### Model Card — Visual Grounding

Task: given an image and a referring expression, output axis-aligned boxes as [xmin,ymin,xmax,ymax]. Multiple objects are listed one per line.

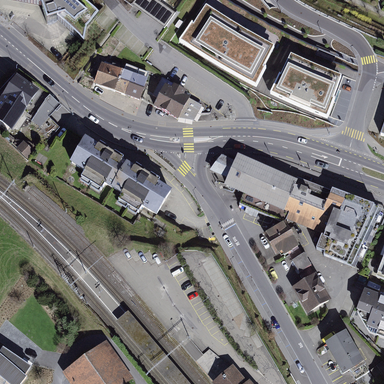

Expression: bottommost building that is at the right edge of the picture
[323,329,370,382]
